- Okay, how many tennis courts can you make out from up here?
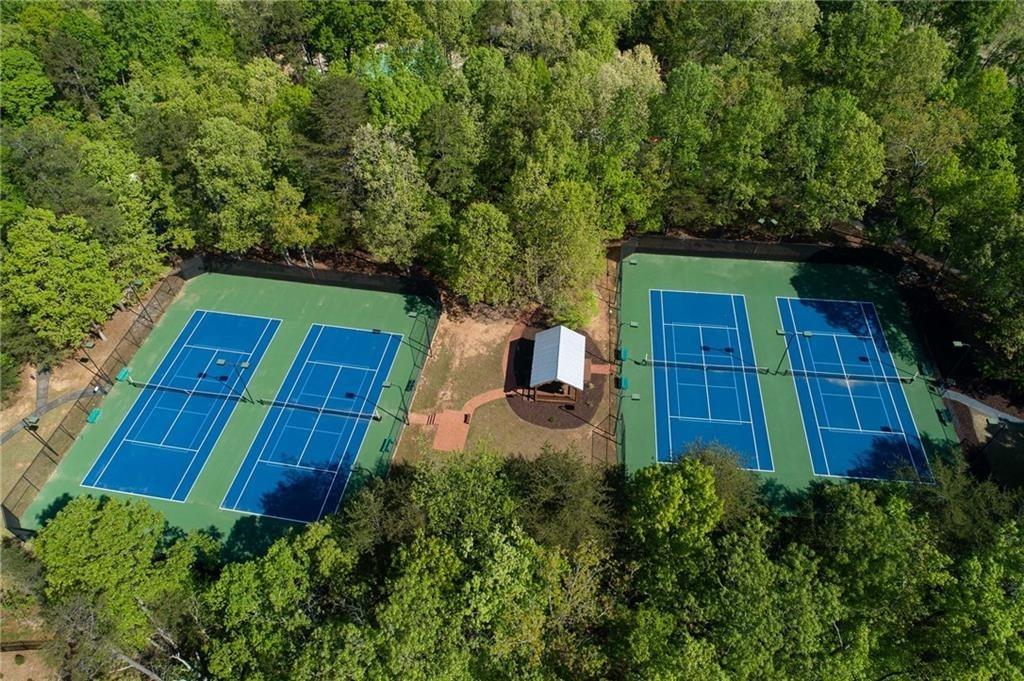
4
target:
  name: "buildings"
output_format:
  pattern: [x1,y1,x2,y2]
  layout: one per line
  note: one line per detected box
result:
[530,325,585,405]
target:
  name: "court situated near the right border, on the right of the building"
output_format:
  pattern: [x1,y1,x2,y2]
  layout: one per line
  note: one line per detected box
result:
[753,260,984,533]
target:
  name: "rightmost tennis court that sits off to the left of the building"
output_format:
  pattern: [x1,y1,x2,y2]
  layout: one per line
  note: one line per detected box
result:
[188,285,443,594]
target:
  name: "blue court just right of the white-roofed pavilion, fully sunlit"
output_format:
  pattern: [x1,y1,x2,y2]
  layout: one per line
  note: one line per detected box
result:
[620,255,798,530]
